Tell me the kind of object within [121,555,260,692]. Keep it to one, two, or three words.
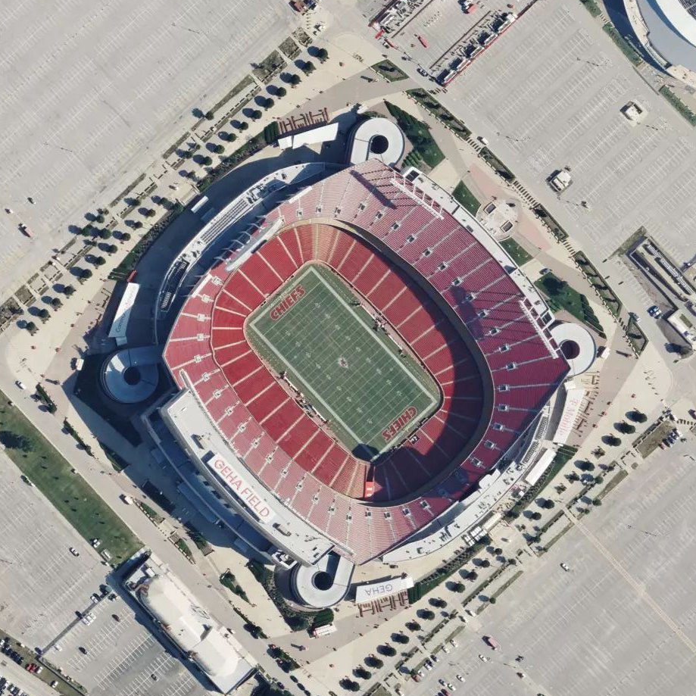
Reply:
building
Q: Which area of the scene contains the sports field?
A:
center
